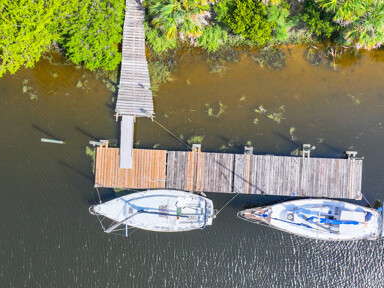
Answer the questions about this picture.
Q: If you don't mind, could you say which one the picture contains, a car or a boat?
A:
boat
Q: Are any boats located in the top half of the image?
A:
No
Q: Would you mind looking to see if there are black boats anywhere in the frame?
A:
No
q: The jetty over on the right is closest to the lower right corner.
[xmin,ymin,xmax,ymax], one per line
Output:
[234,155,363,200]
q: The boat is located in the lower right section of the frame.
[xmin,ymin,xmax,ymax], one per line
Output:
[237,200,384,243]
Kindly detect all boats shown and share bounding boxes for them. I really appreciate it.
[87,191,219,237]
[237,200,384,243]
